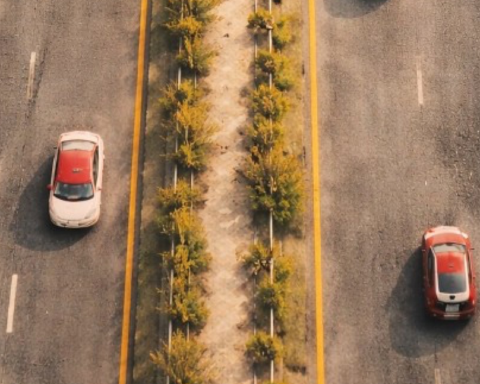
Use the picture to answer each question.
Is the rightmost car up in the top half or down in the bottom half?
bottom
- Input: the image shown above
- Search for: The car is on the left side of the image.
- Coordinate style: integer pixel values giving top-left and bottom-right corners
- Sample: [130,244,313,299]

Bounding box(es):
[45,132,105,228]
